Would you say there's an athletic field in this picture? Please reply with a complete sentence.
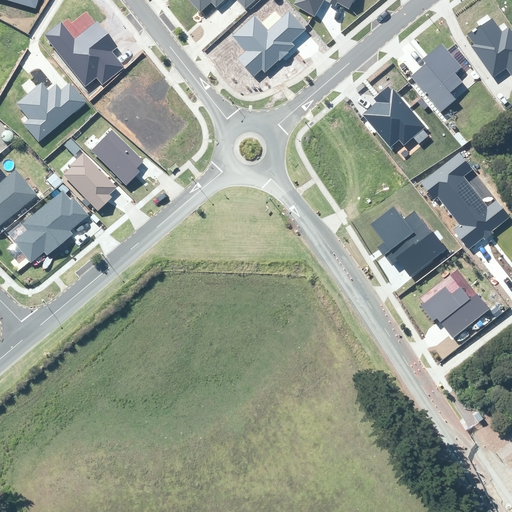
No, no athletic field can be seen from above.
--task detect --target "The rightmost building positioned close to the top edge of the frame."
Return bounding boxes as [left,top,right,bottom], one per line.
[468,18,512,76]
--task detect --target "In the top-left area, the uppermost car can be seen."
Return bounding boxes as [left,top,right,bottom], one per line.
[117,49,132,63]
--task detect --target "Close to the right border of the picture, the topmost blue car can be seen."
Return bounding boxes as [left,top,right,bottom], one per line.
[478,244,490,260]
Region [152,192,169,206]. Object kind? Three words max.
vehicle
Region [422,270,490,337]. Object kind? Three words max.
house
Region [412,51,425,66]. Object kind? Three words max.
vehicle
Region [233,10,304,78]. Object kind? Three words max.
house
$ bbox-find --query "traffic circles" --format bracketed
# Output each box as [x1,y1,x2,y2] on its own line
[216,114,284,183]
